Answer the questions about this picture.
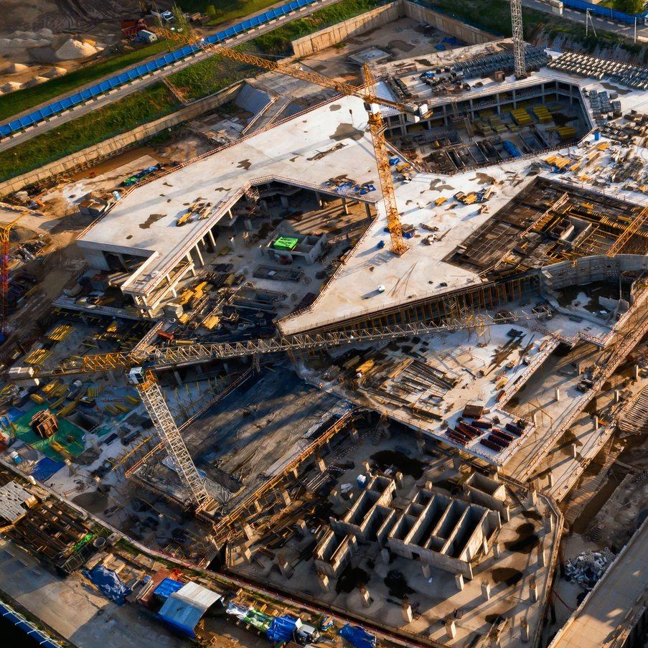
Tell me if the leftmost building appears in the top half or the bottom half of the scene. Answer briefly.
bottom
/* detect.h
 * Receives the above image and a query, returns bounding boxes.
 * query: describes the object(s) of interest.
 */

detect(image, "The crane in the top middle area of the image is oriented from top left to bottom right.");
[156,26,422,258]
